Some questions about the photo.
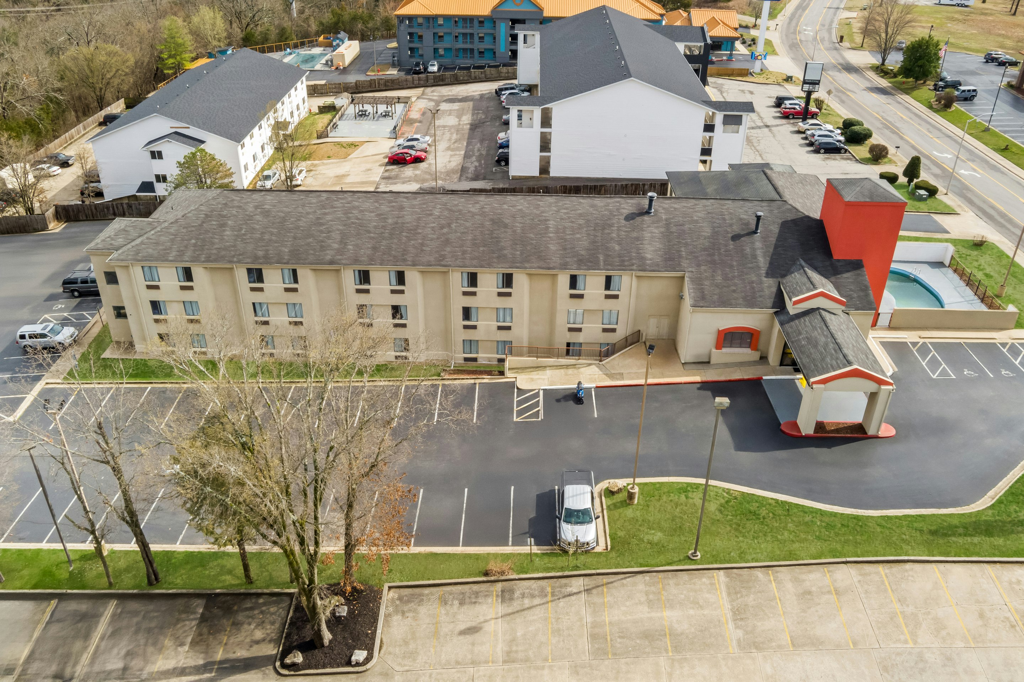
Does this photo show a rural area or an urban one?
urban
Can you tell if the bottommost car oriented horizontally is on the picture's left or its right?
left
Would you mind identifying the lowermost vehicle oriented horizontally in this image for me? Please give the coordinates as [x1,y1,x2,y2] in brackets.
[9,316,86,349]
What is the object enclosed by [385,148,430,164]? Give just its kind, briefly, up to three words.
car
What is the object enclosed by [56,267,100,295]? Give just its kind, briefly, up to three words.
car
